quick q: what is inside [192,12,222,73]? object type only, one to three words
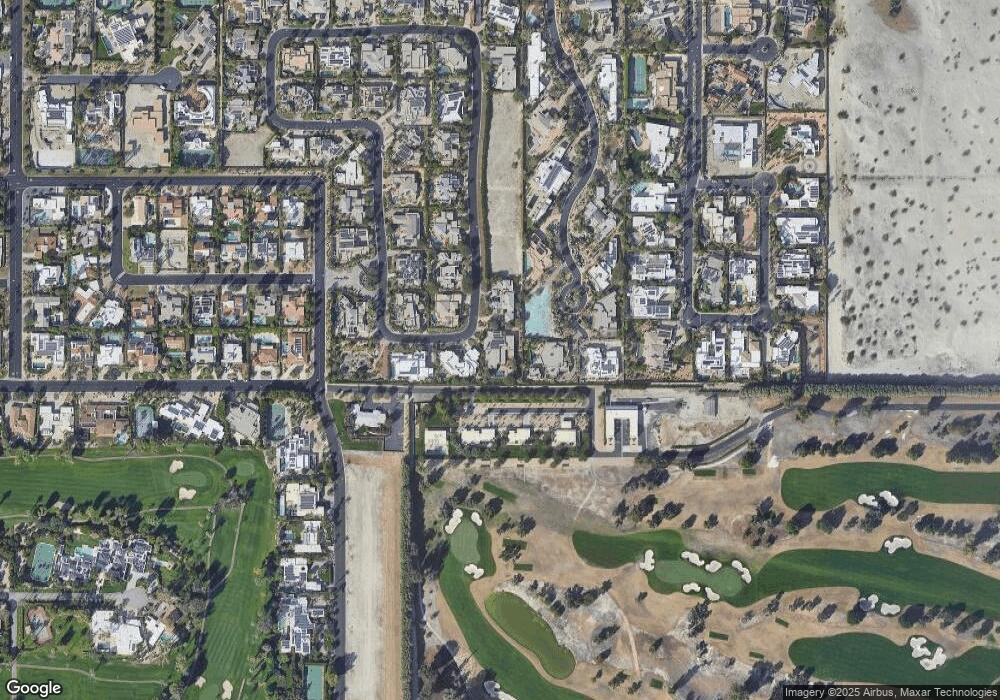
house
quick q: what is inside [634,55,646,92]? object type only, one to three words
tennis court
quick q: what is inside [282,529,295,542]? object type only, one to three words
swimming pool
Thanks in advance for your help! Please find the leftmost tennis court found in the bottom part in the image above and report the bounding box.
[30,543,57,582]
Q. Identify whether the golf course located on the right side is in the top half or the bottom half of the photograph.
bottom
